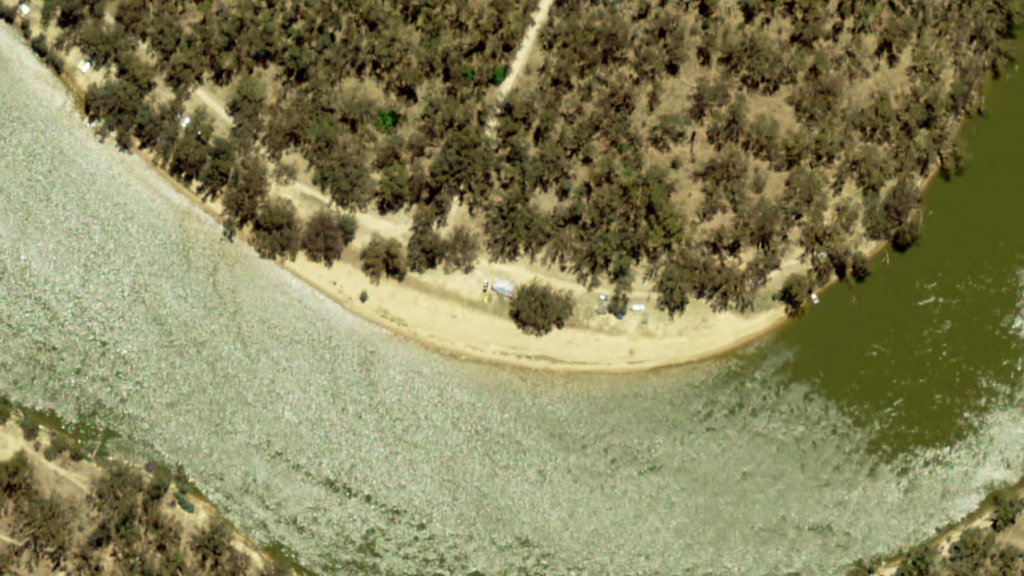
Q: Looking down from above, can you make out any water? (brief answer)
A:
Yes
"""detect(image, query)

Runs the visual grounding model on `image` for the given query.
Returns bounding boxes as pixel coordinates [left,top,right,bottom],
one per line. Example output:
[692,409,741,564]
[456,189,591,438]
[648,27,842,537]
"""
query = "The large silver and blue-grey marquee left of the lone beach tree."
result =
[492,277,513,297]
